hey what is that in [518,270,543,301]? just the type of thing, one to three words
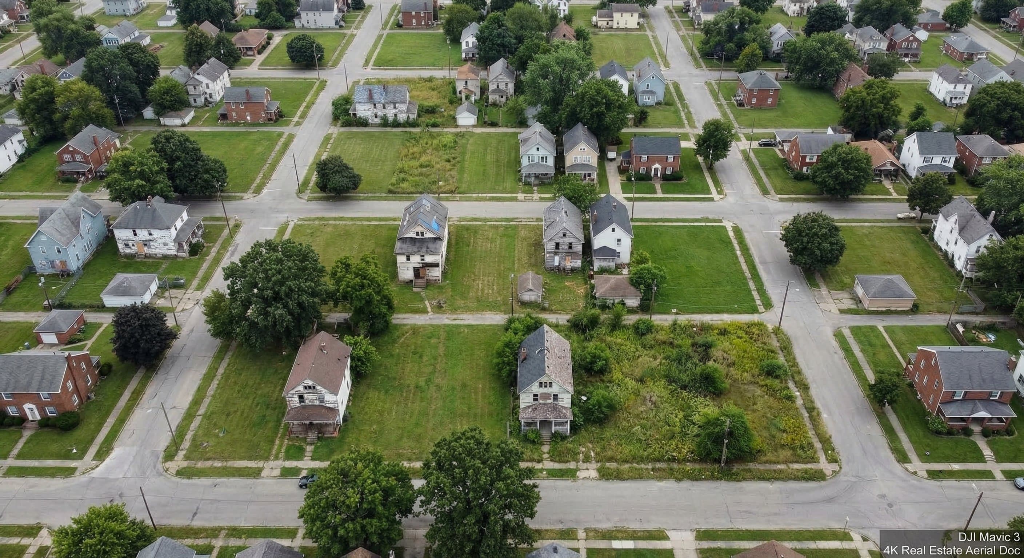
shed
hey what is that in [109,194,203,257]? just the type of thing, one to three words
house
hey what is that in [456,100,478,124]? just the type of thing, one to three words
building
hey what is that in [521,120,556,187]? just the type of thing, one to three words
house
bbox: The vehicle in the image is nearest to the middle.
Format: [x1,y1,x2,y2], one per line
[605,140,617,158]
